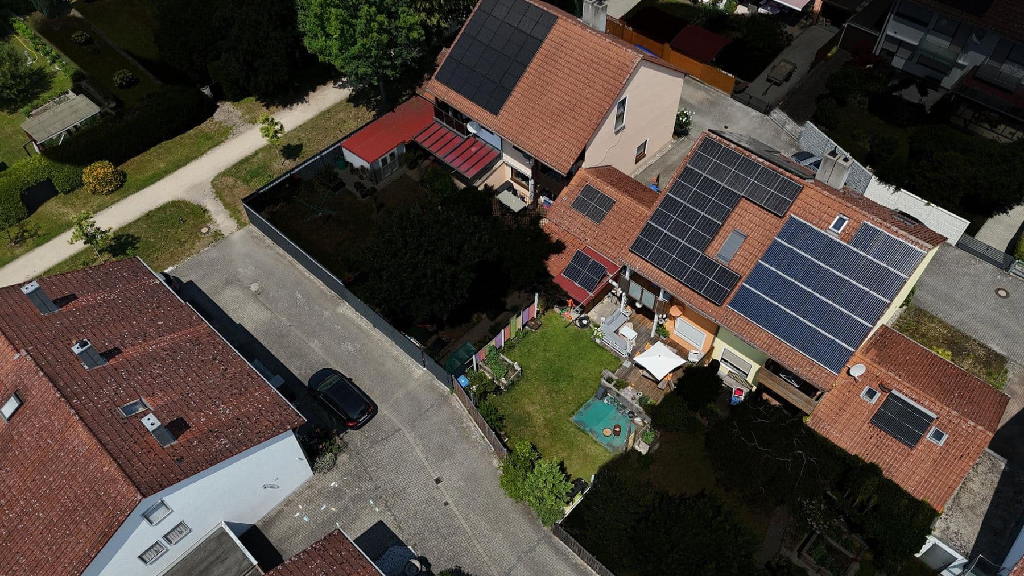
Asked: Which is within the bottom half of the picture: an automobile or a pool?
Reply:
automobile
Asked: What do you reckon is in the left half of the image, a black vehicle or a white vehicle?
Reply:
black vehicle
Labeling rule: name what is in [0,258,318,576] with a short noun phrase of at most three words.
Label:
house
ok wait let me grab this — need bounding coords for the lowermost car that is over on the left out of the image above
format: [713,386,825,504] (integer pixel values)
[300,361,372,430]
